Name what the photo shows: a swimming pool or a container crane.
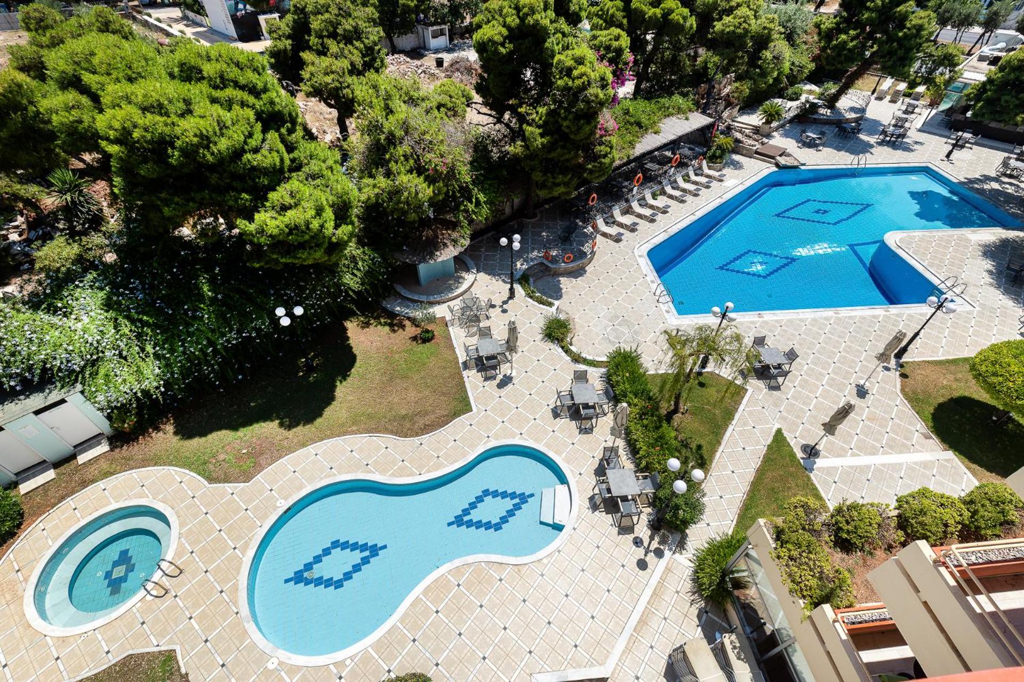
swimming pool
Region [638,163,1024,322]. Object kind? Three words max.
swimming pool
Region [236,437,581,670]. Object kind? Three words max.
swimming pool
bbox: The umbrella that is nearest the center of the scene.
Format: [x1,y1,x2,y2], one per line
[505,322,521,381]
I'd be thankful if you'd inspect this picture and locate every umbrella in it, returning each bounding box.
[856,335,910,391]
[799,402,852,464]
[941,113,980,161]
[505,322,521,381]
[600,412,624,469]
